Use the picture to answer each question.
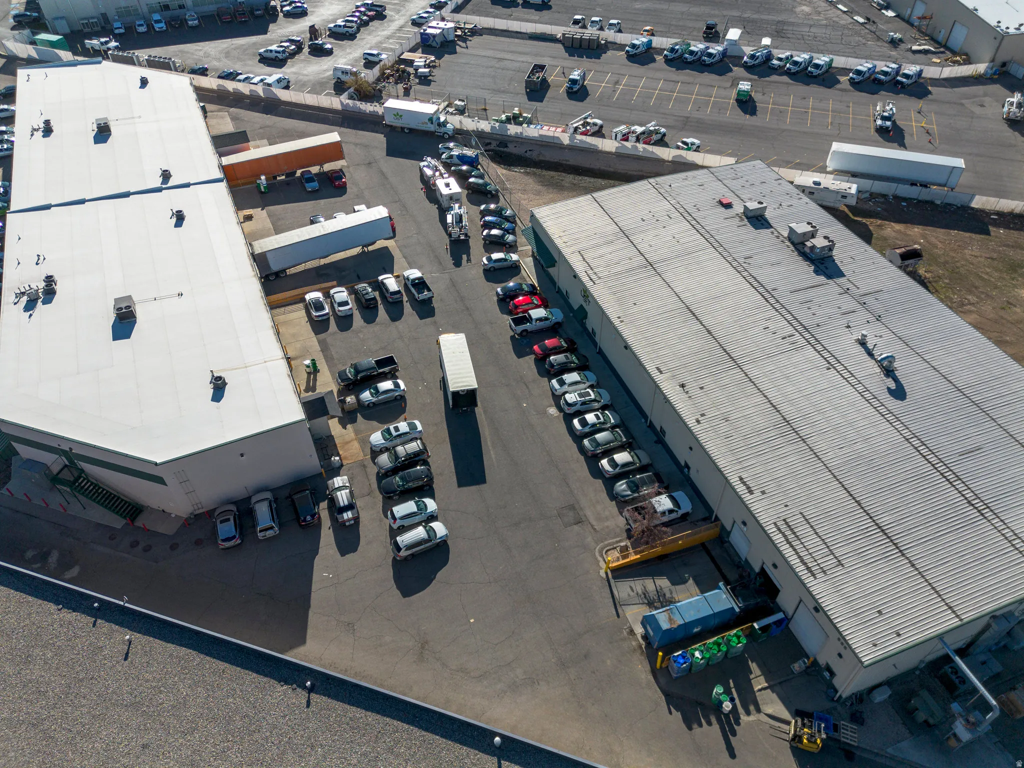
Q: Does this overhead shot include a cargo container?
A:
Yes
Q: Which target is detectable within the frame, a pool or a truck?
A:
truck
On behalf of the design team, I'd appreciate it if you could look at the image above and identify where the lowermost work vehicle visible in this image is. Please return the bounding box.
[768,721,835,755]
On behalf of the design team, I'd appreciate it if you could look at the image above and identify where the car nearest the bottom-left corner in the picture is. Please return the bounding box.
[211,503,243,553]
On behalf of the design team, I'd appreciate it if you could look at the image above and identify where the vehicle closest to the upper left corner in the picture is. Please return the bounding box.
[9,10,42,24]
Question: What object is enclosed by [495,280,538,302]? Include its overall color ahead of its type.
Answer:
black car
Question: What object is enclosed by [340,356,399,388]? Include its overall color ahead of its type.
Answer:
black truck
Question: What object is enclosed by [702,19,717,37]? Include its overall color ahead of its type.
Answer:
black vehicle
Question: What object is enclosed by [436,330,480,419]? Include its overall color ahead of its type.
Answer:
white truck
